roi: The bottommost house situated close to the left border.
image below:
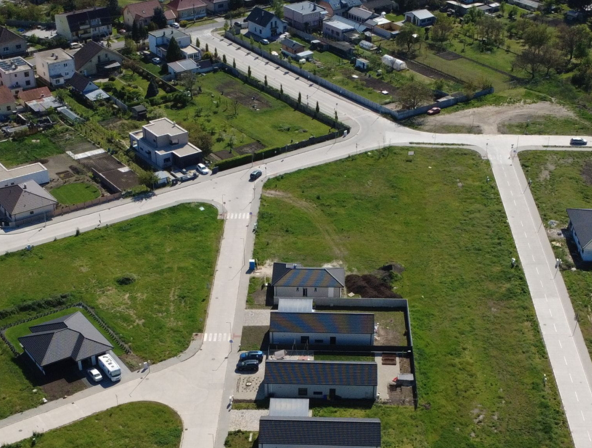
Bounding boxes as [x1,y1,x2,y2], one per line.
[22,309,114,376]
